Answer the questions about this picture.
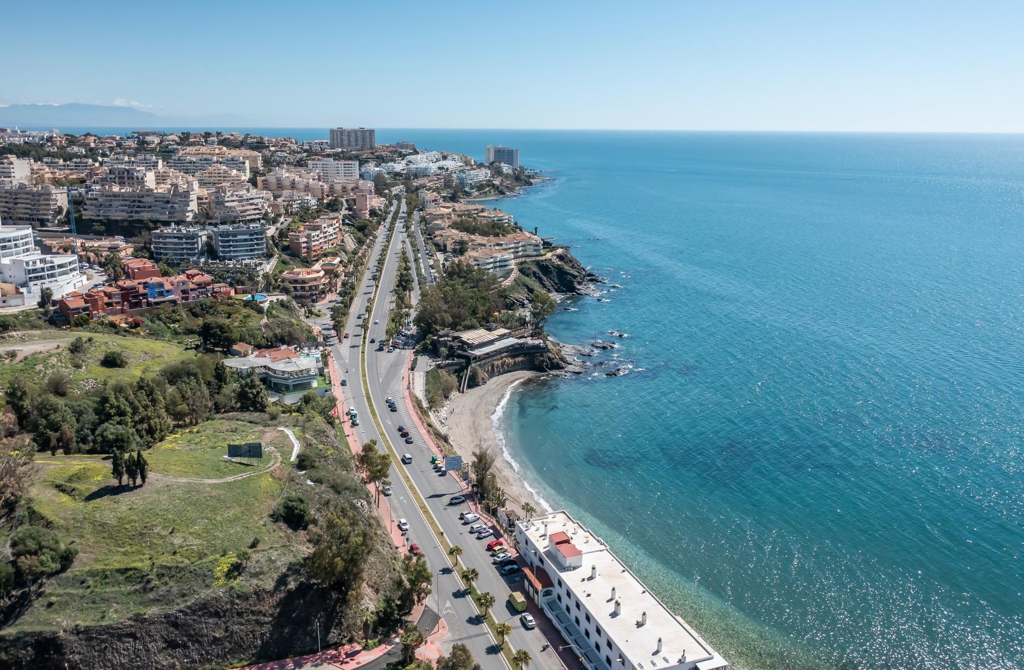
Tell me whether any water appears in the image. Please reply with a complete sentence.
Yes, there is water in the image.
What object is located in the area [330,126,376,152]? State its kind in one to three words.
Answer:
building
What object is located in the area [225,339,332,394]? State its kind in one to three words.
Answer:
building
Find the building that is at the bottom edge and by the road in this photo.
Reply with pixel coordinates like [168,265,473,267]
[514,510,732,670]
